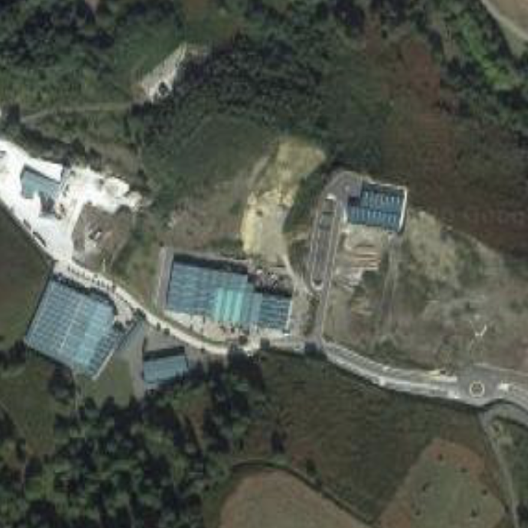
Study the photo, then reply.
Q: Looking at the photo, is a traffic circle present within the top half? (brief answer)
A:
No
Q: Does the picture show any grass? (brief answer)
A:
Yes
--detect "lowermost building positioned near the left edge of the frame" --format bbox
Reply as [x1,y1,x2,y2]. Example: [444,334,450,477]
[25,280,119,379]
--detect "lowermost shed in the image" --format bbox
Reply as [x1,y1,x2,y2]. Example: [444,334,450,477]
[144,355,188,385]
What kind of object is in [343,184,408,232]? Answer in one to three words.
building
